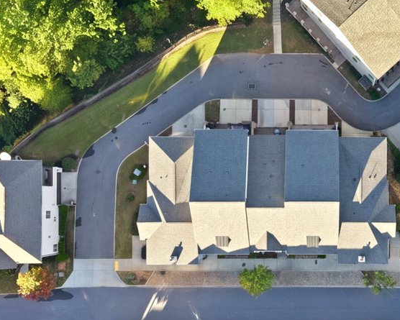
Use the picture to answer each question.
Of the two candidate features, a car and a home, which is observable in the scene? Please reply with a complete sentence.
Looking from above, you can make out a home.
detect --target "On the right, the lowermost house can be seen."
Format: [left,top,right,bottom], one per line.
[136,118,396,264]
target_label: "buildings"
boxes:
[136,118,396,264]
[302,0,400,90]
[0,159,72,269]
